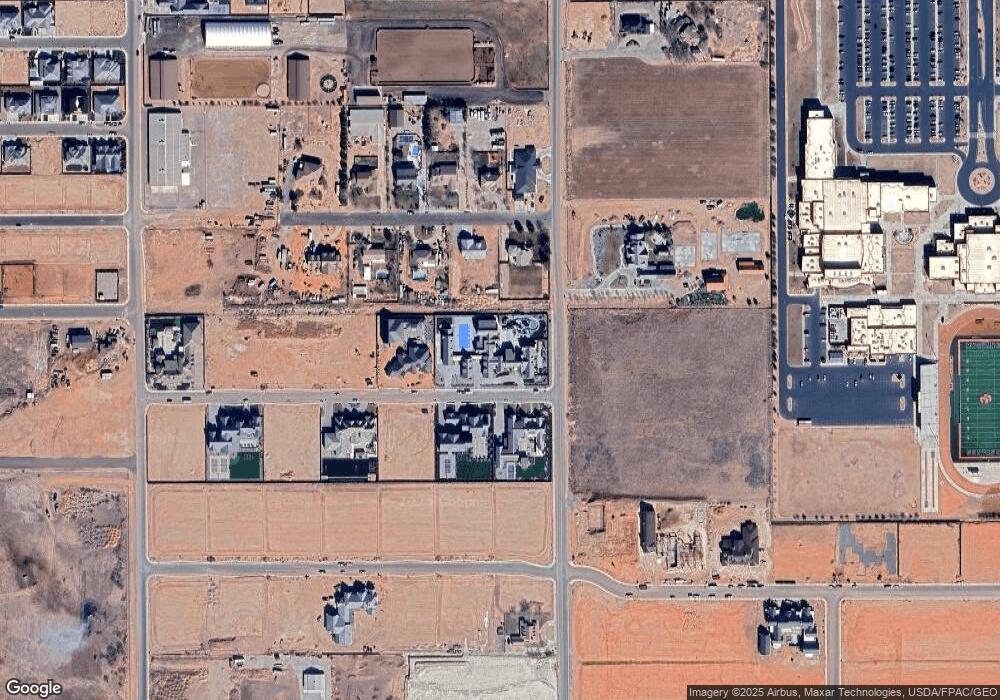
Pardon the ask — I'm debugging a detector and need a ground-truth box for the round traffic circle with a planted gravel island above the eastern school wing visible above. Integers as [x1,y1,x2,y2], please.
[958,156,1000,203]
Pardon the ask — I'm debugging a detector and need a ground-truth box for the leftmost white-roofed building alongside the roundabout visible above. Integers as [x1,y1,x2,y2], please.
[799,110,937,287]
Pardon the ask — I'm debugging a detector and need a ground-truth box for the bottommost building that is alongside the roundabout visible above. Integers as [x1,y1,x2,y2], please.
[929,216,1000,294]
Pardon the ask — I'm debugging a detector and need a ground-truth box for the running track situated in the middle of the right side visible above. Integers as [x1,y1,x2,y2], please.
[937,302,1000,498]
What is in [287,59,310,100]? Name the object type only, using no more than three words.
barn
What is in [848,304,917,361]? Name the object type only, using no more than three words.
building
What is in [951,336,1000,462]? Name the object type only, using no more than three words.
sports field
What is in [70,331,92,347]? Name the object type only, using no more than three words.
house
